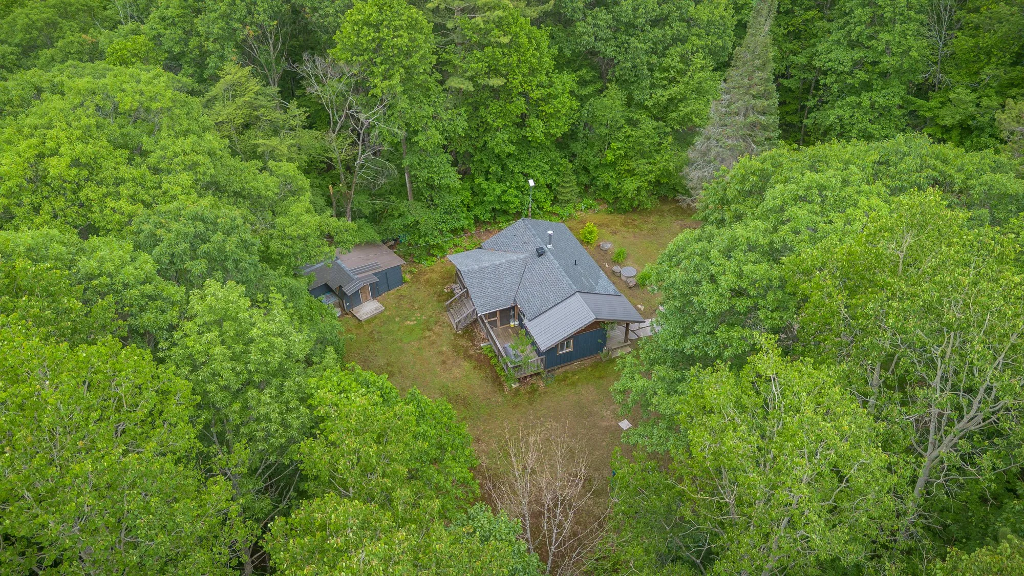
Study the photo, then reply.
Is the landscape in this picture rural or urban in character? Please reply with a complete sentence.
From above, the setting appears rural.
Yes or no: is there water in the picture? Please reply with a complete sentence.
No, the scene doesn't show any water.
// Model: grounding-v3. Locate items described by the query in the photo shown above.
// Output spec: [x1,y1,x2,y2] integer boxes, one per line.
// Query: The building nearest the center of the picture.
[444,218,646,385]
